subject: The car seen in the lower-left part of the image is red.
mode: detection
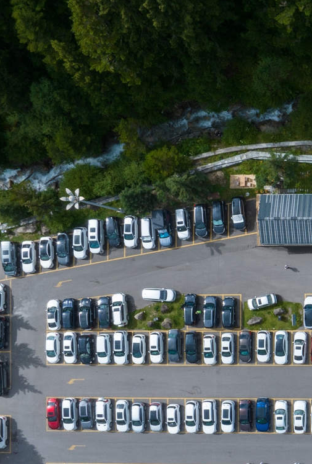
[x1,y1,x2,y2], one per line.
[47,397,63,429]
